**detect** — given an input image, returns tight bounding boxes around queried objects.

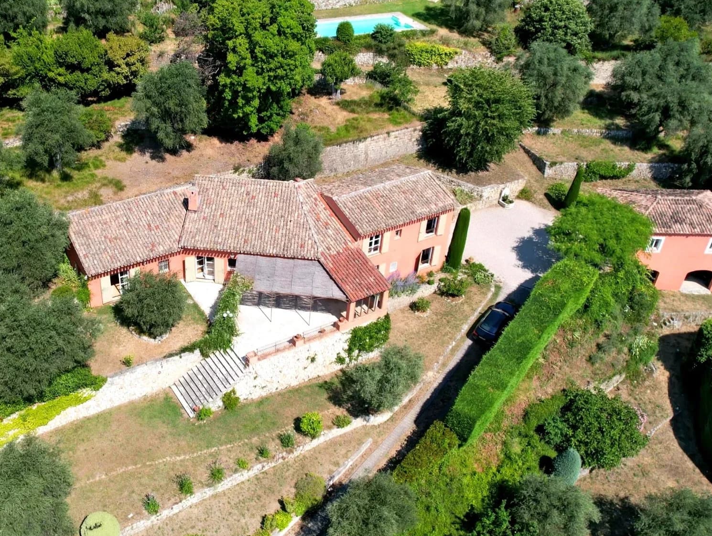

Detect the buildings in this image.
[593,186,712,301]
[63,161,455,322]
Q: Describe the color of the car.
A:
black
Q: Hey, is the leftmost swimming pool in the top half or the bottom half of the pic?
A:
top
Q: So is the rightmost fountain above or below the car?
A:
above it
